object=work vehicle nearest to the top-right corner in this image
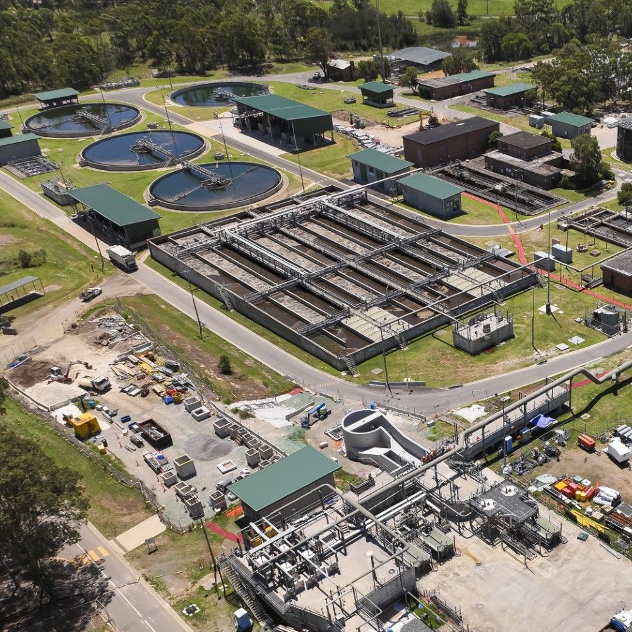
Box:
[412,103,443,125]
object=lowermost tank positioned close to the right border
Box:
[581,294,632,333]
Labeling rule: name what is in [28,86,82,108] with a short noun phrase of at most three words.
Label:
shed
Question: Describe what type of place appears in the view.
industrial area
